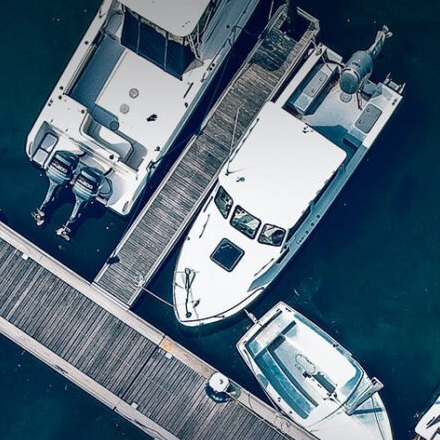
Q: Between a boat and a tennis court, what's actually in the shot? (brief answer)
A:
boat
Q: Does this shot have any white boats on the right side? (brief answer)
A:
Yes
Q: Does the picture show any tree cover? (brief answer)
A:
No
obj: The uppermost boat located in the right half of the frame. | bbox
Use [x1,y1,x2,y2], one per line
[172,21,404,327]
